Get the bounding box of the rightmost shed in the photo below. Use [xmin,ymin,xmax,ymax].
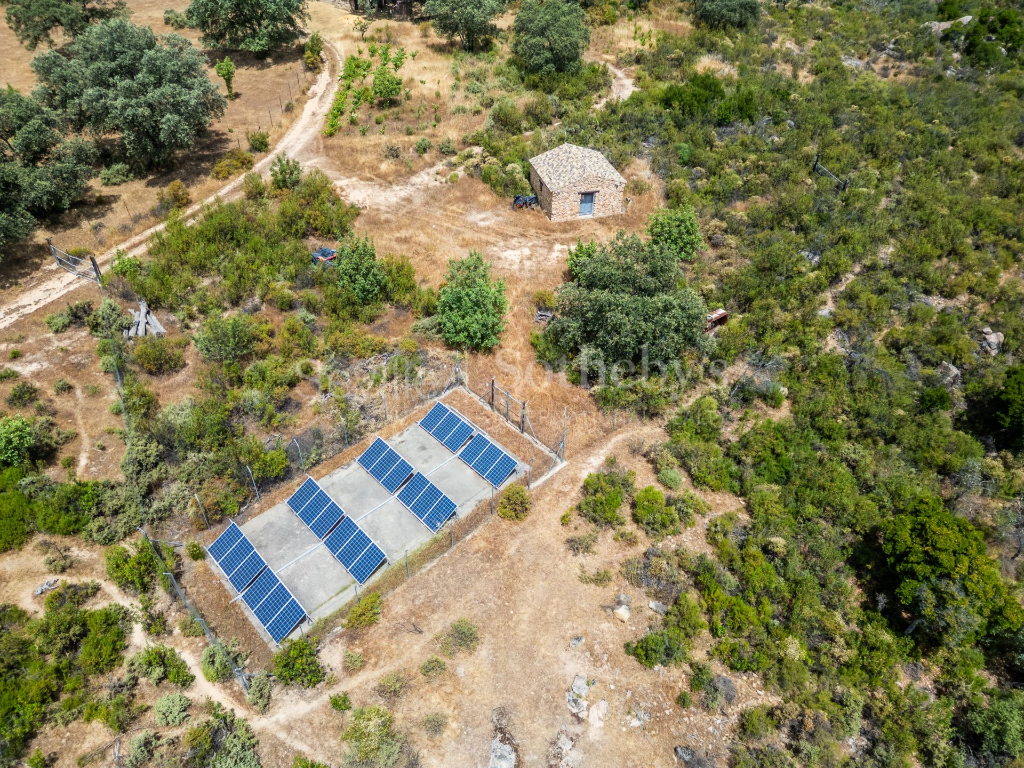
[528,126,628,222]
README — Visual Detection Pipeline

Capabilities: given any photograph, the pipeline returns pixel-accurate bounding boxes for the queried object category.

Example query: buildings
[379,0,414,21]
[528,126,628,222]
